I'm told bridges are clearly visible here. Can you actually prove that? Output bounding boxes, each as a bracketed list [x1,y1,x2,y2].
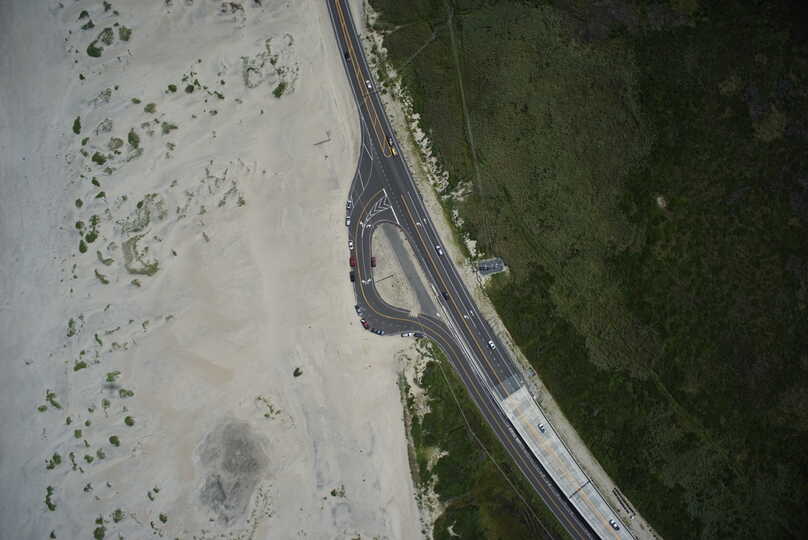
[501,387,635,540]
